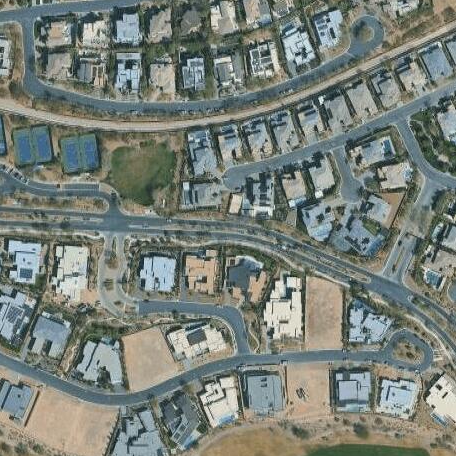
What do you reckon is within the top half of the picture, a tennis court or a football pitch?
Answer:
tennis court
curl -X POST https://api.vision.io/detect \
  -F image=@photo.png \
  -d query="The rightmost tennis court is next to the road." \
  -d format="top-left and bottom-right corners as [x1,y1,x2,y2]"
[60,133,100,173]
